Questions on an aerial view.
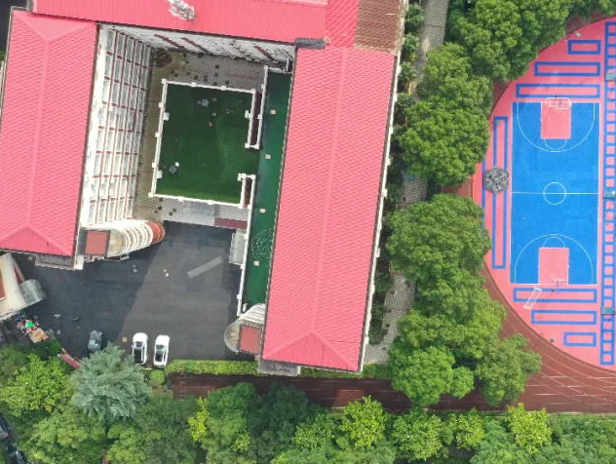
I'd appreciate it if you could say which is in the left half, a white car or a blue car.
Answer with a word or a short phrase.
white car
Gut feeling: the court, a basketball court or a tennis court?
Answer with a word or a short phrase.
basketball court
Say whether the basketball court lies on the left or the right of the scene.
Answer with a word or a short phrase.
right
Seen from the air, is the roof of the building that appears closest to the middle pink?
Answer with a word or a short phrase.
Yes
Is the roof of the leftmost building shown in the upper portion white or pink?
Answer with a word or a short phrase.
pink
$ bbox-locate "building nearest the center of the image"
[224,39,401,378]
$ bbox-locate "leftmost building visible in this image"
[0,254,57,320]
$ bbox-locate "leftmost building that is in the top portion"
[0,4,164,272]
